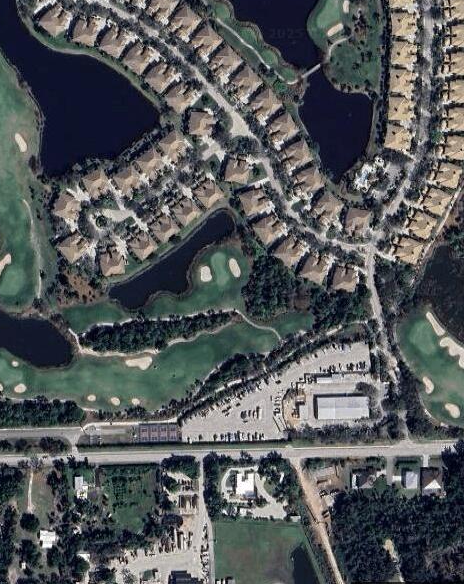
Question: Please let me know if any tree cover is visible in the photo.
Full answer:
Yes, tree cover shows up in the scene.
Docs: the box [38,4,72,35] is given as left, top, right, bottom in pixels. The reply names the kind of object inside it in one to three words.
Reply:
house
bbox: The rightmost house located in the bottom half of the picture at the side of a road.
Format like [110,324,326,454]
[422,467,443,494]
